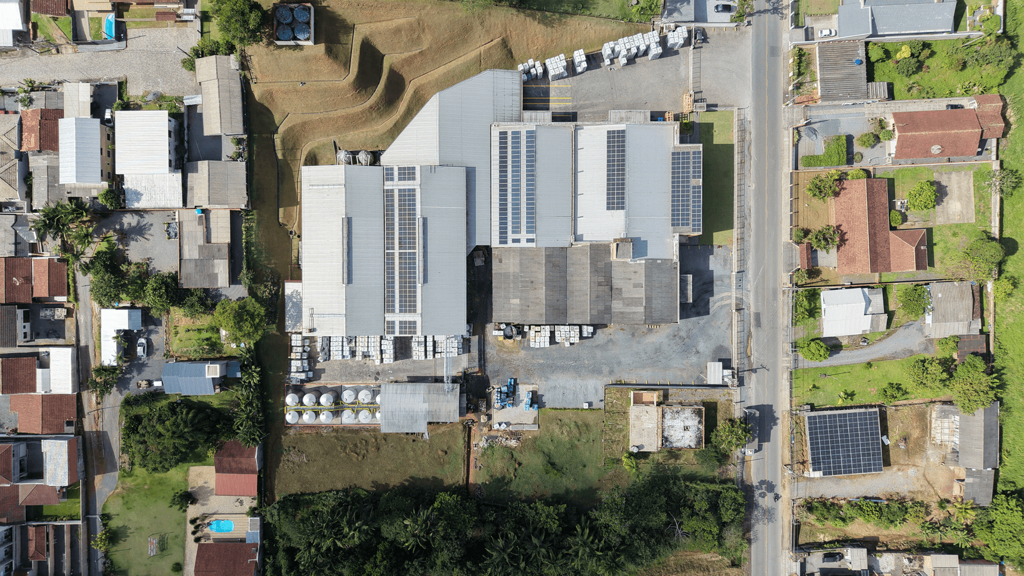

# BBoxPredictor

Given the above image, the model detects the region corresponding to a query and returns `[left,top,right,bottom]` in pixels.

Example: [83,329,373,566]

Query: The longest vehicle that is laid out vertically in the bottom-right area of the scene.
[741,406,757,454]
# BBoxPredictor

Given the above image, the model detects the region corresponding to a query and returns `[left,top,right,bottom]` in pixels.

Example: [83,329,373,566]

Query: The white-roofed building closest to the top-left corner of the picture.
[0,2,37,51]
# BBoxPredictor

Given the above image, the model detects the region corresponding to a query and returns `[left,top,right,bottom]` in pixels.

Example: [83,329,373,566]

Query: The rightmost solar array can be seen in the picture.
[806,410,883,476]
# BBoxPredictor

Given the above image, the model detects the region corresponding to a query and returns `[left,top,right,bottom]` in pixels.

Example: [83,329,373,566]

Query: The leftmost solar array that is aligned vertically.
[386,166,417,335]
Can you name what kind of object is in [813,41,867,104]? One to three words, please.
barn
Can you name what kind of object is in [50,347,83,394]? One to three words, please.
house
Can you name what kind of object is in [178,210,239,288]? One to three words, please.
building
